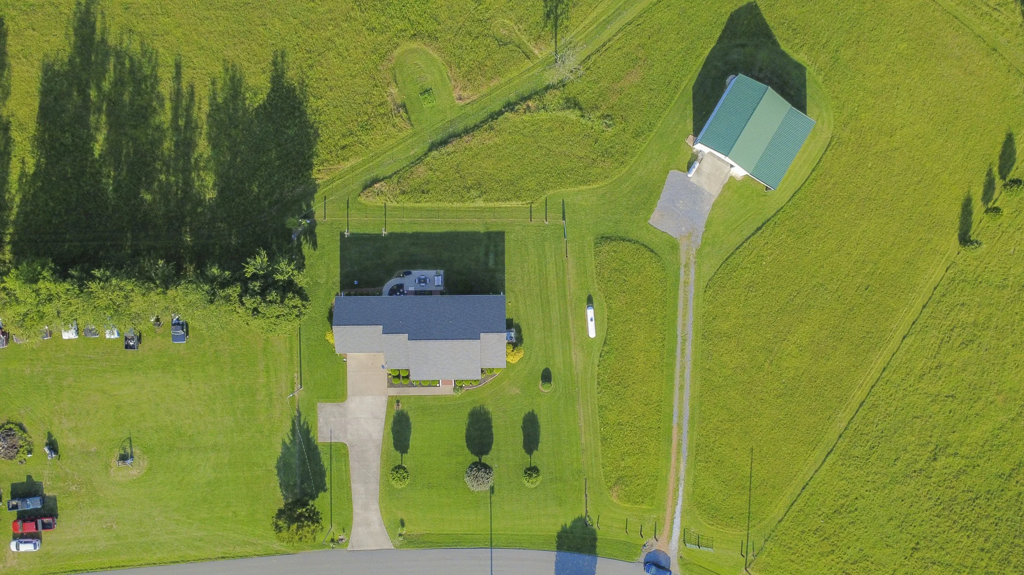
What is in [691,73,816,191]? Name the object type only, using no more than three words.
barn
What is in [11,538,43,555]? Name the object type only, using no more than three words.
car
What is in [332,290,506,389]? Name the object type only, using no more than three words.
house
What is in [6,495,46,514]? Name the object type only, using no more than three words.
vehicle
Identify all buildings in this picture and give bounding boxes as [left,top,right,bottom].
[691,73,816,191]
[332,290,506,389]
